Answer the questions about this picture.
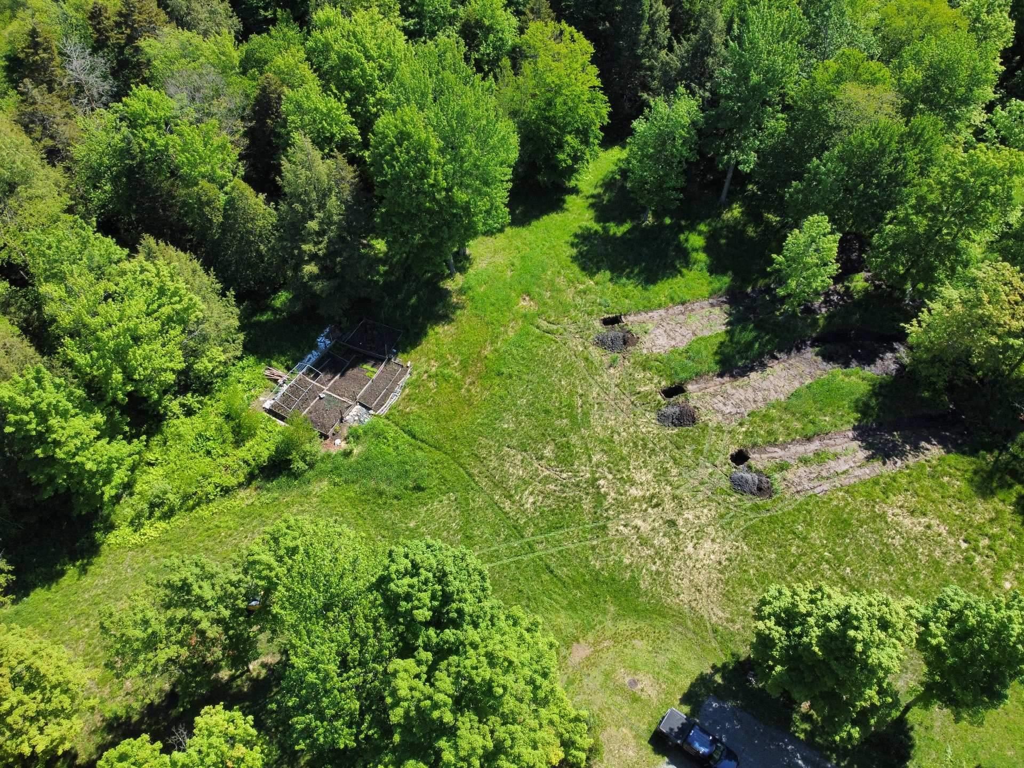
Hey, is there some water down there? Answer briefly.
No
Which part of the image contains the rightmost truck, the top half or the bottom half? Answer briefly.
bottom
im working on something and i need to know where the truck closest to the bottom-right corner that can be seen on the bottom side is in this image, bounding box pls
[657,707,739,768]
